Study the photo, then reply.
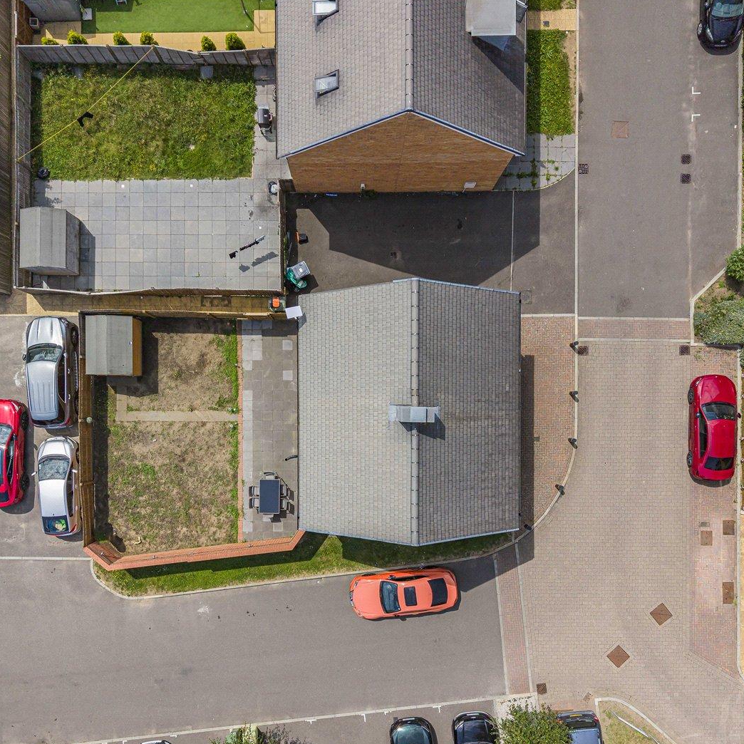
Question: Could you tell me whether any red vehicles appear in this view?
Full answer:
Yes, the image includes a red vehicle.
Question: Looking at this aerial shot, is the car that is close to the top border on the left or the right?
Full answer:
It is on the right.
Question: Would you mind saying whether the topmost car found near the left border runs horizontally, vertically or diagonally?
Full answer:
Seen from above, the topmost car found near the left border lies vertically.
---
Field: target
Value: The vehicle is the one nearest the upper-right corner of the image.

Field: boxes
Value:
[701,0,744,50]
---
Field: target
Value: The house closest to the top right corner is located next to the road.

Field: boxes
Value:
[274,0,528,193]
